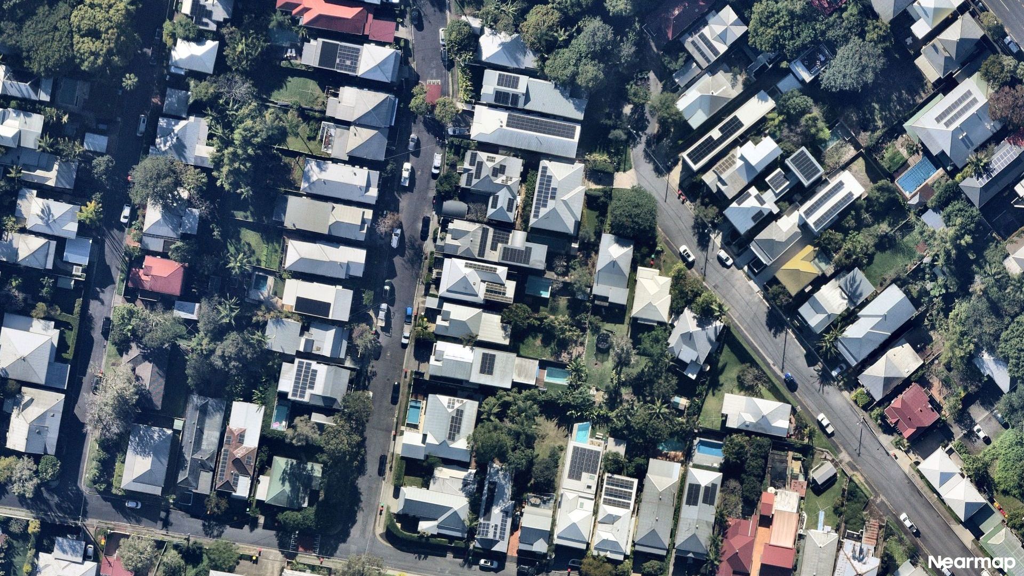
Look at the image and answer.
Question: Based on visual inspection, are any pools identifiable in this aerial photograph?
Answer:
Yes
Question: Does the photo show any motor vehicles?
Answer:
Yes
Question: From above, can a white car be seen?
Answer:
Yes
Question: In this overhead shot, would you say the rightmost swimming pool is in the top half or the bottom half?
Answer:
top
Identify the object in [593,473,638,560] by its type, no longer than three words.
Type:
house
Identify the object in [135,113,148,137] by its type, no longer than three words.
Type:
vehicle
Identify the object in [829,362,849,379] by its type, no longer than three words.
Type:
car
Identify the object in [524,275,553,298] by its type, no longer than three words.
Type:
swimming pool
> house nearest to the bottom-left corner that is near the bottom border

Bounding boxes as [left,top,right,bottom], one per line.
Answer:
[33,537,98,576]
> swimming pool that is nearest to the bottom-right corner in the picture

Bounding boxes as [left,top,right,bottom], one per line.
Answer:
[695,439,725,458]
